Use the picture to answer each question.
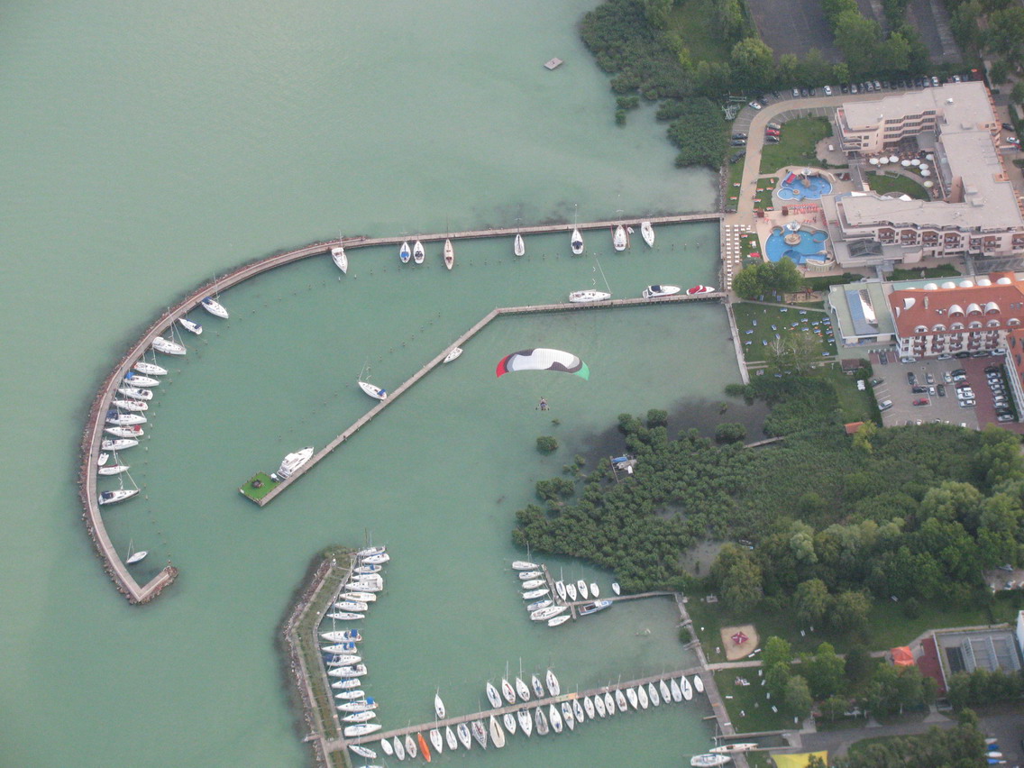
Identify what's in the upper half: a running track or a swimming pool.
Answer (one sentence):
What appears in the upper half is a swimming pool.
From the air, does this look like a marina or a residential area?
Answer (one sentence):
The picture captures a marina.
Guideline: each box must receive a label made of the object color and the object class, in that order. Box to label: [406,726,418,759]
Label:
white boat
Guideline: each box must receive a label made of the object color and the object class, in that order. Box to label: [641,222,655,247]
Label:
white boat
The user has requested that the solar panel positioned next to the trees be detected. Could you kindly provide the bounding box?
[946,646,968,674]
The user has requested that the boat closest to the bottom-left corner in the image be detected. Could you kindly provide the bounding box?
[127,544,149,563]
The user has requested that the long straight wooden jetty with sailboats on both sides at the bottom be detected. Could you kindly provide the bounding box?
[334,665,702,750]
